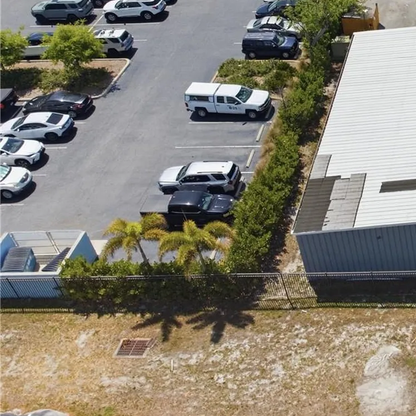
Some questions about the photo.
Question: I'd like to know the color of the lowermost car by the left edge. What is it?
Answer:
white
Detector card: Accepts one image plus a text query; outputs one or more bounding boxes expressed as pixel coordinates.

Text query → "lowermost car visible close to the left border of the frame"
[0,164,40,199]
